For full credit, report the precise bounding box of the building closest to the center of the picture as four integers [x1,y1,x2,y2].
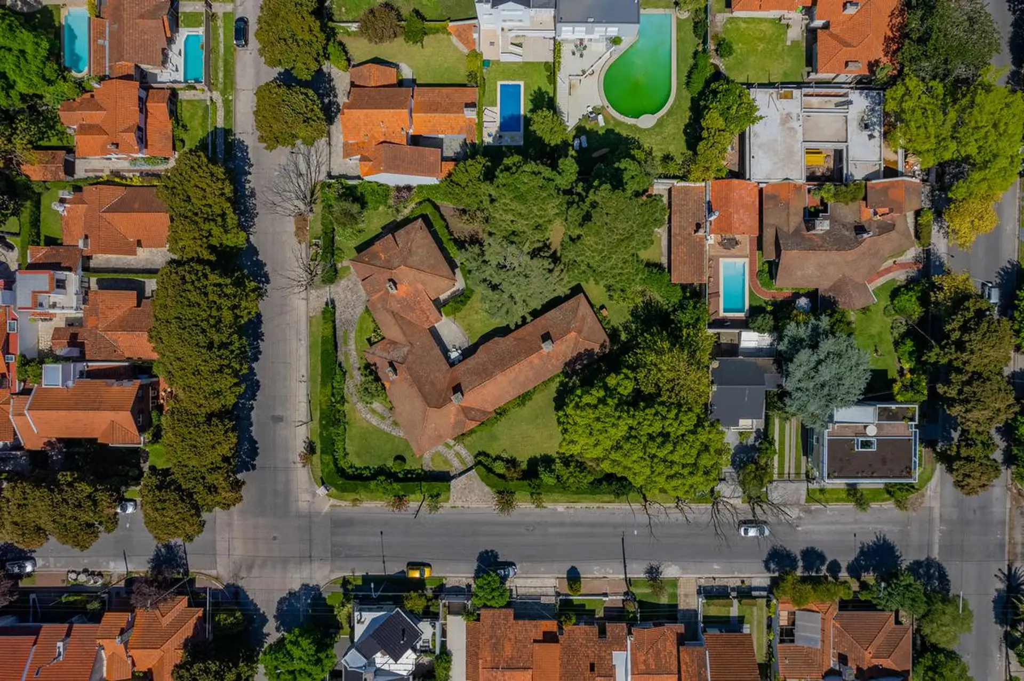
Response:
[350,218,610,458]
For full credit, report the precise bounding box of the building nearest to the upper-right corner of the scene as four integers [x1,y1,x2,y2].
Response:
[802,0,903,78]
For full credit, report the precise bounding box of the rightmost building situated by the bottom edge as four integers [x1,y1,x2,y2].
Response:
[823,605,912,681]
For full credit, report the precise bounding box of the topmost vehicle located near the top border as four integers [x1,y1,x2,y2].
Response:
[234,17,250,48]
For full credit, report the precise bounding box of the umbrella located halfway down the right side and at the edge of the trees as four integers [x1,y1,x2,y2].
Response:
[792,295,810,310]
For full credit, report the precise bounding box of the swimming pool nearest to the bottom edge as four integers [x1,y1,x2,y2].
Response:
[719,258,748,315]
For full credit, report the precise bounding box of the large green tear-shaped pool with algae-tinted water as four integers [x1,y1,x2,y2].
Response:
[599,9,676,122]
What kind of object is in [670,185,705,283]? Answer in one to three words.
shed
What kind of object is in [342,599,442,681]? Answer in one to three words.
house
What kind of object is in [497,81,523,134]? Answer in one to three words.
swimming pool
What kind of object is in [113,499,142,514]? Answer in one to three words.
car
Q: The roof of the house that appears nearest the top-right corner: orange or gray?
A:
orange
